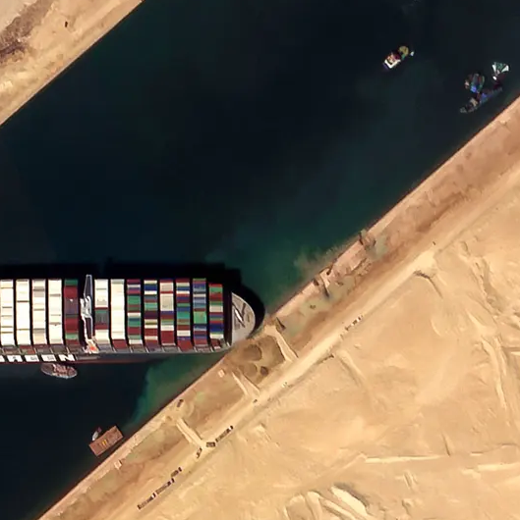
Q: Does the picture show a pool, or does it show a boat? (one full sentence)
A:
It is a boat that can be seen here.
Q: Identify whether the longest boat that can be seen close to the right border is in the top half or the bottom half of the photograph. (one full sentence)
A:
The longest boat that can be seen close to the right border is in the top half of the image.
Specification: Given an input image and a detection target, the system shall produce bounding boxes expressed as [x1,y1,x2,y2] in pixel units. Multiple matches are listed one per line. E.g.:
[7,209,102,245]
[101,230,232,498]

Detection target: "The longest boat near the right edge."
[459,84,505,113]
